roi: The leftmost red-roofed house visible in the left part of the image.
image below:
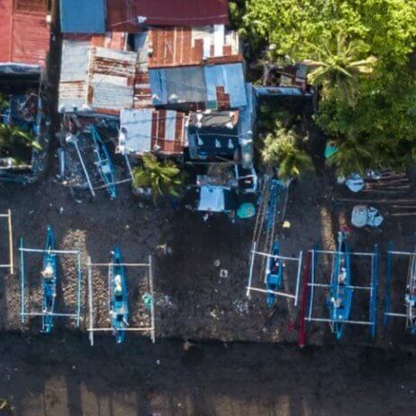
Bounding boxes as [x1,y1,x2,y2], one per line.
[0,0,79,69]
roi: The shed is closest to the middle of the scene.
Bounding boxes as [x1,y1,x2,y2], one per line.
[197,185,236,211]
